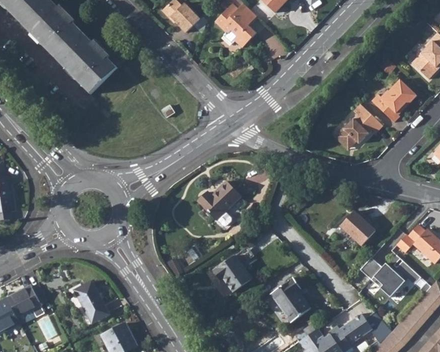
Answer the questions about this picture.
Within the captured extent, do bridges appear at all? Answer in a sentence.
No, I can see no bridge in this picture.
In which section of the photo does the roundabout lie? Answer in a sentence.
The roundabout is in the left part of the image.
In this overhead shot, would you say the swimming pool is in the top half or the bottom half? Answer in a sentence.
You can find the swimming pool in the bottom half.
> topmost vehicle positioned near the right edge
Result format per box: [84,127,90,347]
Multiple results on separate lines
[410,114,426,130]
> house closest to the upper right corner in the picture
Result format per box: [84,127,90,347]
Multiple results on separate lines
[412,33,440,81]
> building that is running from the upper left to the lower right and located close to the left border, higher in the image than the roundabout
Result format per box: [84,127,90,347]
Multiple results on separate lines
[0,0,117,96]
